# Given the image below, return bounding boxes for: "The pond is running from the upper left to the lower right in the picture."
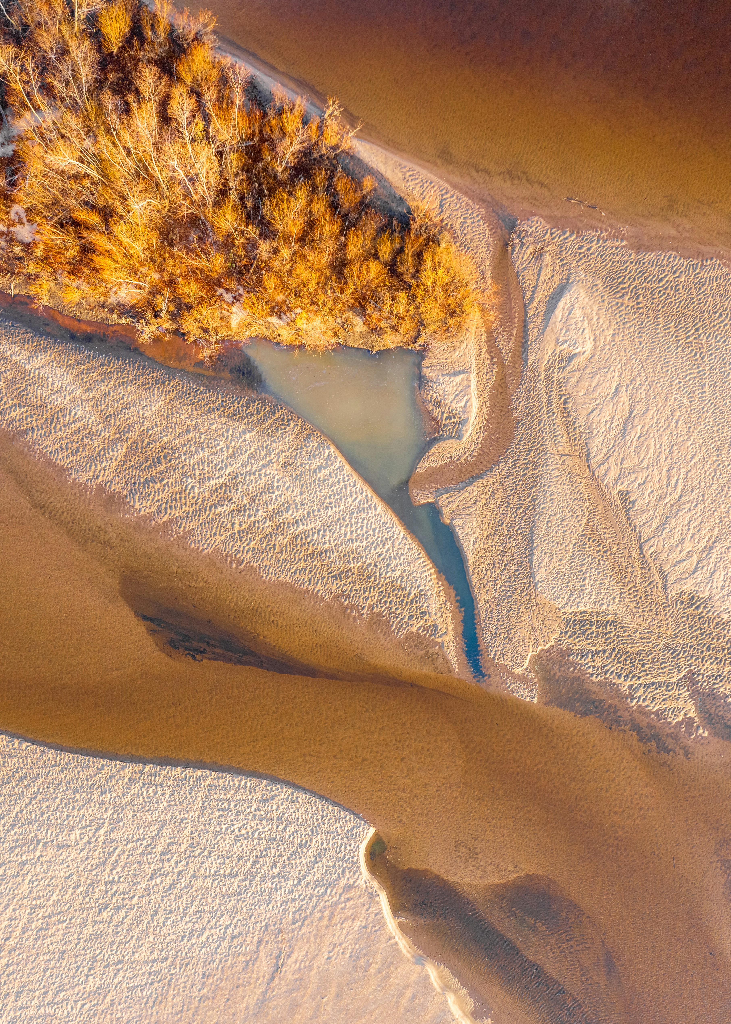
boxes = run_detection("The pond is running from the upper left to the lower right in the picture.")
[254,342,486,678]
